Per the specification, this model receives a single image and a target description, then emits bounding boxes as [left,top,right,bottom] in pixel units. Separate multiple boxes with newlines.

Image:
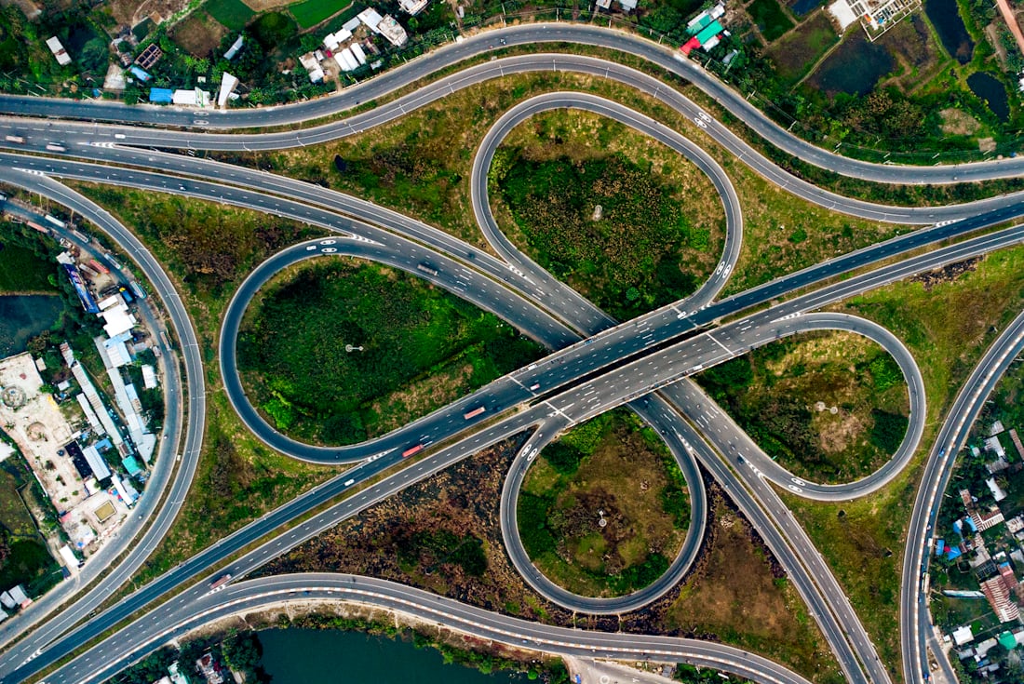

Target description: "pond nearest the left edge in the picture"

[0,293,63,360]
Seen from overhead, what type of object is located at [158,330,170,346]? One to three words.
vehicle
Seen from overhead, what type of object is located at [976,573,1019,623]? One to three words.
building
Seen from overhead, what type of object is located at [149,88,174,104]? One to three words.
shed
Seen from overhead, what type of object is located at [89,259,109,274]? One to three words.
vehicle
